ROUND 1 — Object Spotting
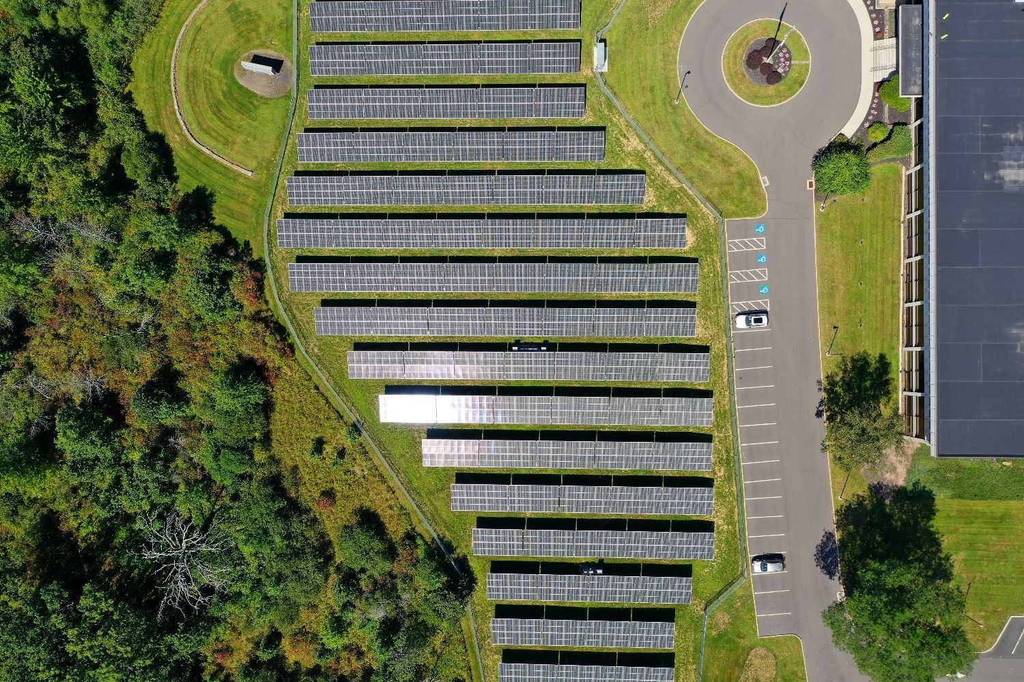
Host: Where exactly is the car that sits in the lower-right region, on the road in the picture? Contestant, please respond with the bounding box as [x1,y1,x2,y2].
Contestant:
[750,558,783,574]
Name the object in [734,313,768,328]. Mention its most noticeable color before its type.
white car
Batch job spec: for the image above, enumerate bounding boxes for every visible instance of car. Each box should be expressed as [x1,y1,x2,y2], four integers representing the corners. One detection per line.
[750,558,783,574]
[734,313,768,328]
